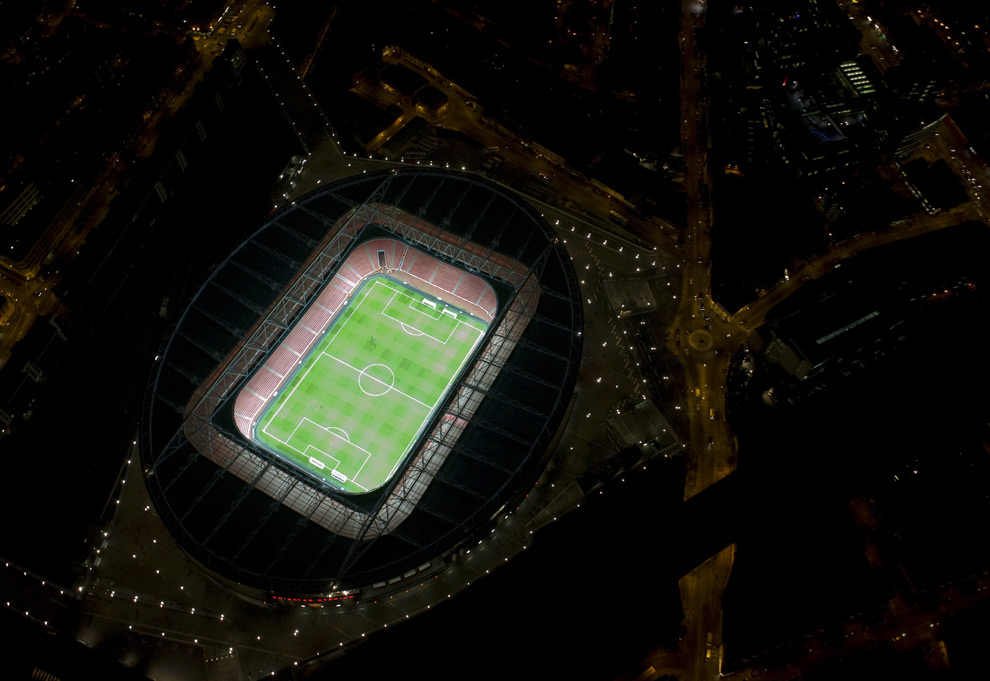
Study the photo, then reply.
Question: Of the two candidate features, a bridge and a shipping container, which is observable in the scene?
bridge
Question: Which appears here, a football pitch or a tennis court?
football pitch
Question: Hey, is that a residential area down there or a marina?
residential area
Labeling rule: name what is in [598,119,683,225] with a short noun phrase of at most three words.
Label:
building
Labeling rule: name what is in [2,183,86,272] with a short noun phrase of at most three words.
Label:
building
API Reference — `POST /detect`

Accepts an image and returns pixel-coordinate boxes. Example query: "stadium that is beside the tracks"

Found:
[139,166,584,616]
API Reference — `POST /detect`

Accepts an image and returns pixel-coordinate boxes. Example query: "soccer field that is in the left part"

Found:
[248,269,494,505]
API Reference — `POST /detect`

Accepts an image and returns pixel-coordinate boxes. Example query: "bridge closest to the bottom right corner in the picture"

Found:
[680,468,737,579]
